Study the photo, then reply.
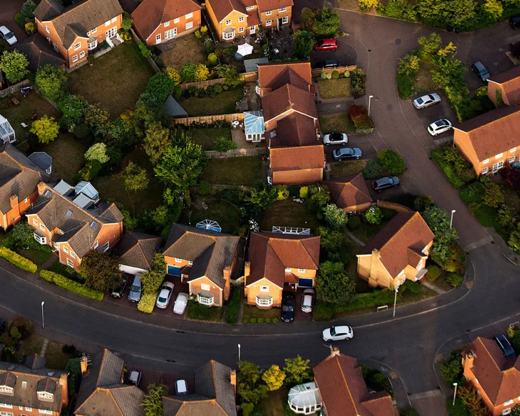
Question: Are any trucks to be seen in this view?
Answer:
No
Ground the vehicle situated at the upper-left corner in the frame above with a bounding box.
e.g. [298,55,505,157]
[0,26,17,47]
